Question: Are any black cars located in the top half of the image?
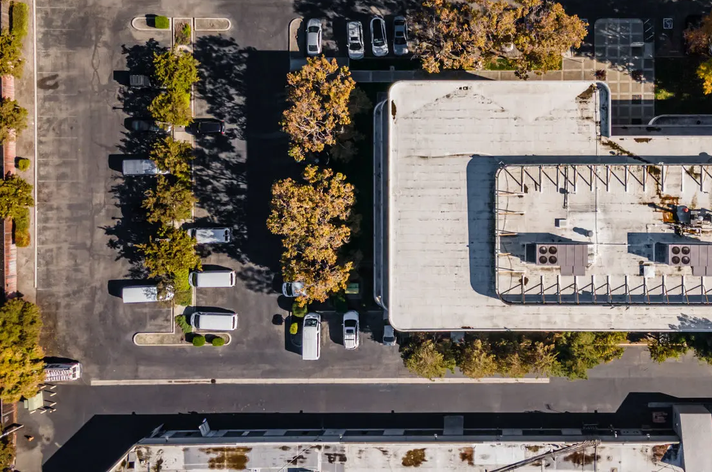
Yes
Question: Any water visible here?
No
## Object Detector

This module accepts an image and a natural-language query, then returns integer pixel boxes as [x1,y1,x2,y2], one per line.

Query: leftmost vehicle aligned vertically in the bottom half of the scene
[301,312,321,363]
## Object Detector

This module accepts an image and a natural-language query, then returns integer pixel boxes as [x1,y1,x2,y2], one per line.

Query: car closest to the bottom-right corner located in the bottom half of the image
[381,315,398,347]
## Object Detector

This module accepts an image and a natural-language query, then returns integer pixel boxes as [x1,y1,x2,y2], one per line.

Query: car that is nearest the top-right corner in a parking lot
[392,16,409,55]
